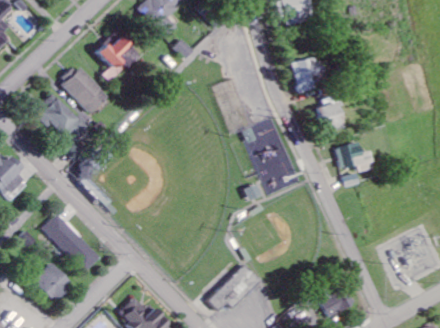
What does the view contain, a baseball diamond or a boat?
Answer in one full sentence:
It is a baseball diamond that can be seen here.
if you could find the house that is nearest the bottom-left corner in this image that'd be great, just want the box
[38,264,70,298]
